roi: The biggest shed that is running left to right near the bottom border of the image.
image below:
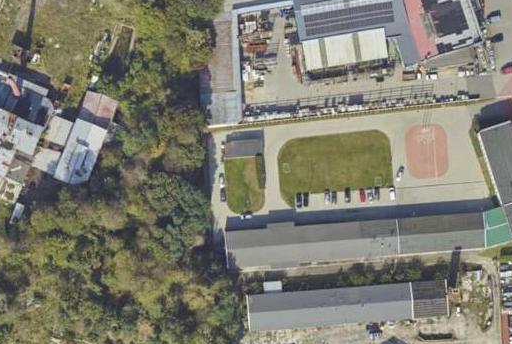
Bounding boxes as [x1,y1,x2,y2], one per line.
[248,282,414,331]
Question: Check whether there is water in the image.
No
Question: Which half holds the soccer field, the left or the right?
right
